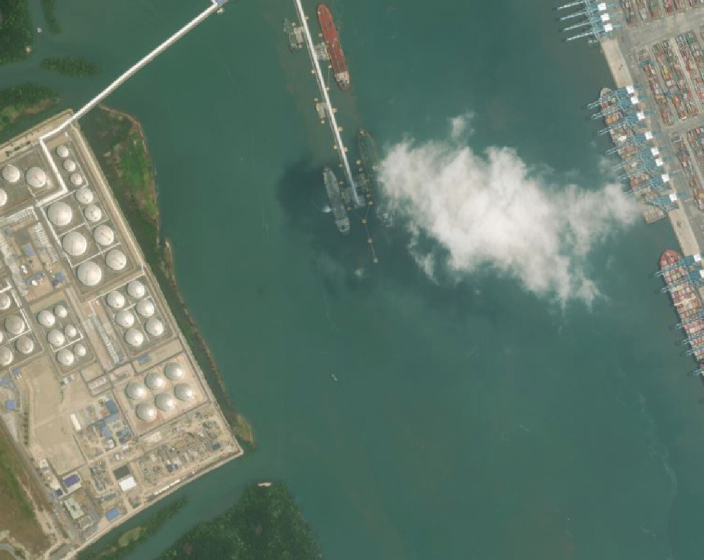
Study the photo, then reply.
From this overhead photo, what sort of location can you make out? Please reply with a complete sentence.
The picture captures a port.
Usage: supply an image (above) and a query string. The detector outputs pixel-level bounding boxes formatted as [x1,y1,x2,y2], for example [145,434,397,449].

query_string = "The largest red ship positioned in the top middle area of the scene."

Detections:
[316,4,353,90]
